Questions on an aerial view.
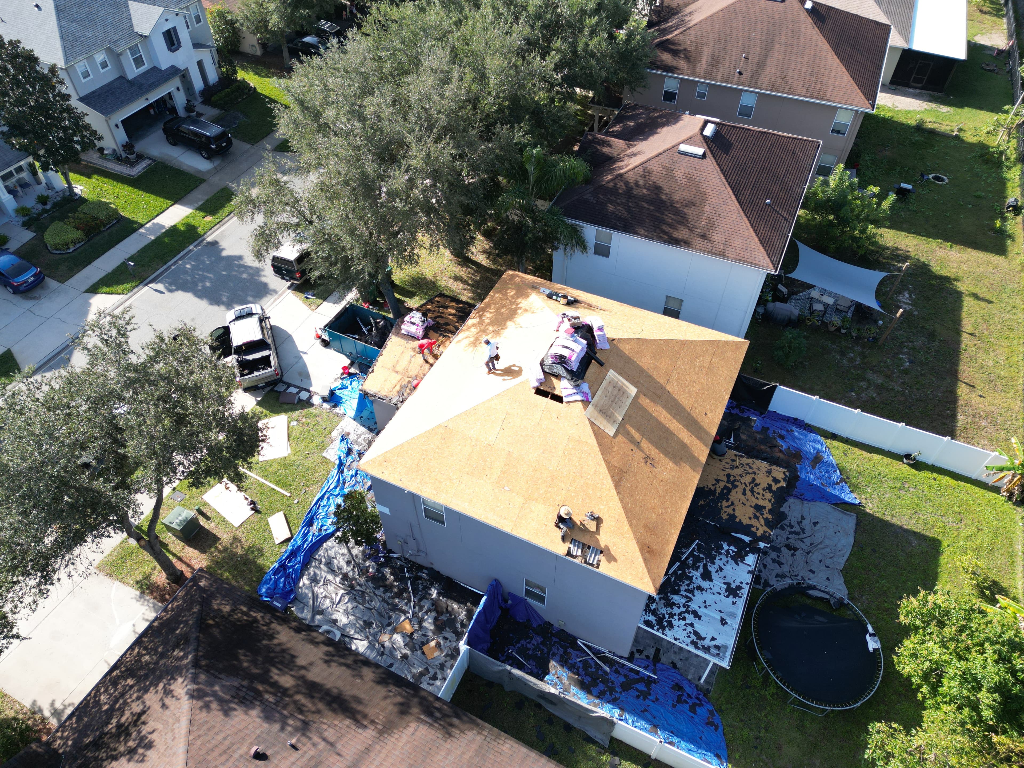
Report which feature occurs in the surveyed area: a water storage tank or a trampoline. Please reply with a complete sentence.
The one in the frame is a trampoline.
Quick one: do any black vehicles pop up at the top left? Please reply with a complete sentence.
Yes, looking at the top left, one can make out a black vehicle.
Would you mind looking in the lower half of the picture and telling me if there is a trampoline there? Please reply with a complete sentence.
Yes, there is a trampoline in the lower half of the picture.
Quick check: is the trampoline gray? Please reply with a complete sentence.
No, the trampoline is actually black.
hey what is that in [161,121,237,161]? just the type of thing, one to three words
car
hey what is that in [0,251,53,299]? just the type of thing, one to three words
car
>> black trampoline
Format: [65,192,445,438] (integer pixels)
[743,581,885,716]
